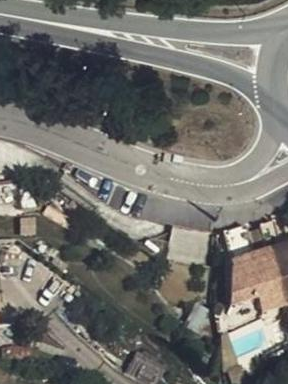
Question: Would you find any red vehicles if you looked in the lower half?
No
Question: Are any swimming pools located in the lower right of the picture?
Yes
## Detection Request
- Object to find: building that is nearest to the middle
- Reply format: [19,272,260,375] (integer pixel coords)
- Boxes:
[167,227,210,265]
